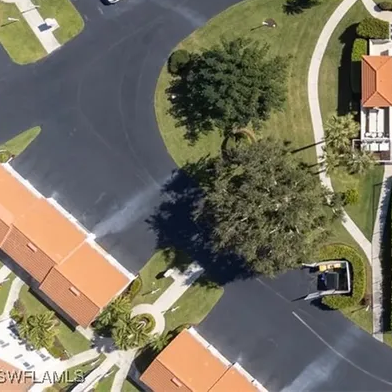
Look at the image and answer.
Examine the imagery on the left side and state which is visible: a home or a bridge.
home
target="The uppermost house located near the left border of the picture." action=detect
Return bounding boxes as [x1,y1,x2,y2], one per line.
[0,156,136,327]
